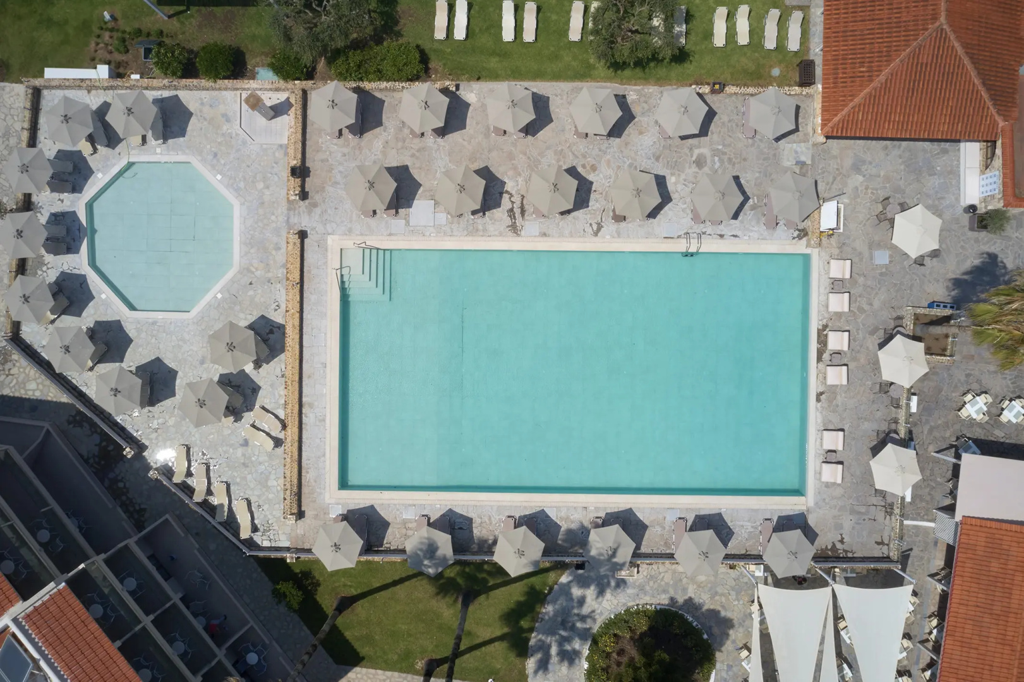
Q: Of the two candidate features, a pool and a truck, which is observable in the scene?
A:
pool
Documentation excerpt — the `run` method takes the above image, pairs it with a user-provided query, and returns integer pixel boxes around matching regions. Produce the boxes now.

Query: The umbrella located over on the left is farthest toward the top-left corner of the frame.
[46,93,96,147]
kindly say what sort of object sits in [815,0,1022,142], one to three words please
building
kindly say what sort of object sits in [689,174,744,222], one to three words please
umbrella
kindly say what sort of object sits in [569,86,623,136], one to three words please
umbrella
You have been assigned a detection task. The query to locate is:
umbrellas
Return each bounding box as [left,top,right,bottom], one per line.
[761,527,815,578]
[492,524,545,577]
[45,324,99,372]
[675,528,729,578]
[107,89,160,139]
[655,88,709,138]
[46,93,96,147]
[889,205,941,259]
[310,82,360,136]
[569,86,623,136]
[210,319,259,374]
[435,164,487,217]
[610,169,663,221]
[689,174,744,222]
[0,212,56,261]
[5,275,61,324]
[582,522,636,574]
[404,520,455,574]
[746,87,794,142]
[97,364,147,419]
[3,146,61,194]
[345,163,399,213]
[768,171,820,224]
[869,439,921,492]
[486,81,537,135]
[311,519,364,571]
[400,80,452,134]
[527,163,579,217]
[876,331,928,385]
[180,376,233,428]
